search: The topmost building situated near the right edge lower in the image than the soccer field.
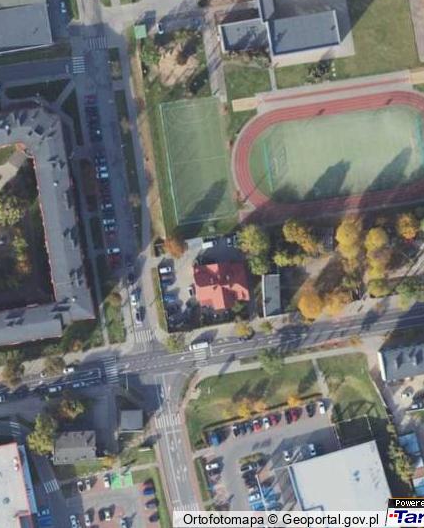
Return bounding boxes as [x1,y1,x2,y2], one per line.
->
[378,345,424,381]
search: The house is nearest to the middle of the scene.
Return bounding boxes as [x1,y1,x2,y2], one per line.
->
[193,262,251,309]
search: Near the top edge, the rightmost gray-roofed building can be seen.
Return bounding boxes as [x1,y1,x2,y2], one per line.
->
[268,11,339,57]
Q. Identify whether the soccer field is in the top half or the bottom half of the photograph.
top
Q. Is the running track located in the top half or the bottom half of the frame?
top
